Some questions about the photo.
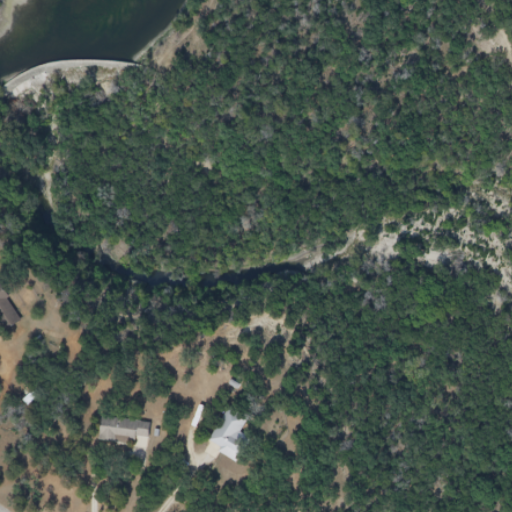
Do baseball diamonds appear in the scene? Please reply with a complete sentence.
No, the frame has no baseball diamond in it.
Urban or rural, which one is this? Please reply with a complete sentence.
This place is rural.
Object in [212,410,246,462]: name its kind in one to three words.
house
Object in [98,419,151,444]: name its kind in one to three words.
house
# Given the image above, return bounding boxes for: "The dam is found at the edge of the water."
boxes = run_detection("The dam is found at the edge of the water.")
[4,60,140,99]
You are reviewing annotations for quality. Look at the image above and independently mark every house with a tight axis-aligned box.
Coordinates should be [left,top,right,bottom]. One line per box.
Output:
[212,410,246,462]
[0,288,20,324]
[98,419,151,444]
